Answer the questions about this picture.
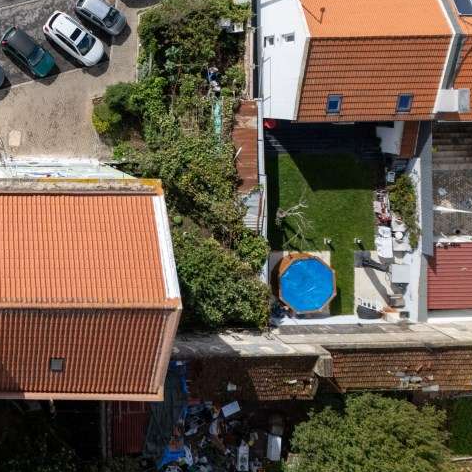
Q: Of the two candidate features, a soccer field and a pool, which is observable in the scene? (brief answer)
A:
pool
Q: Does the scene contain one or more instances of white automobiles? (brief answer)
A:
Yes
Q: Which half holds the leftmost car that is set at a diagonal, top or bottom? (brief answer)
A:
top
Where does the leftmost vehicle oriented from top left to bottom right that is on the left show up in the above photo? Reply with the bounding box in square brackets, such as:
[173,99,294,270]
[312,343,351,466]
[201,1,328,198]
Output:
[0,24,59,80]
